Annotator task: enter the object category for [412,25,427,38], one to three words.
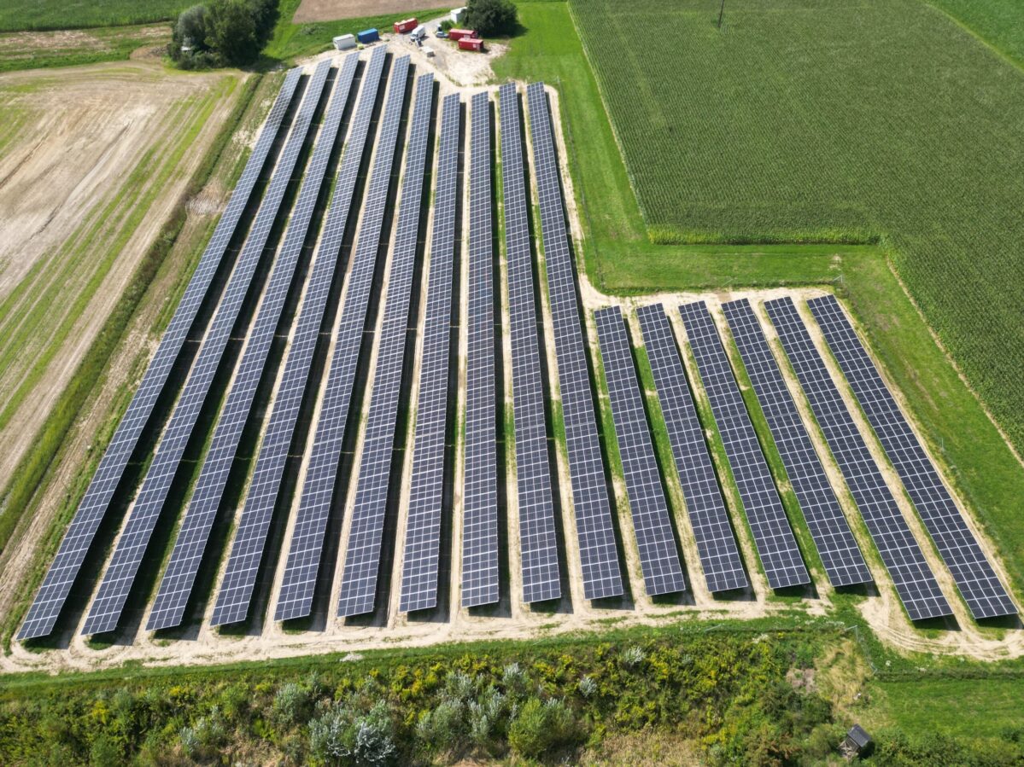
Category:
vehicle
